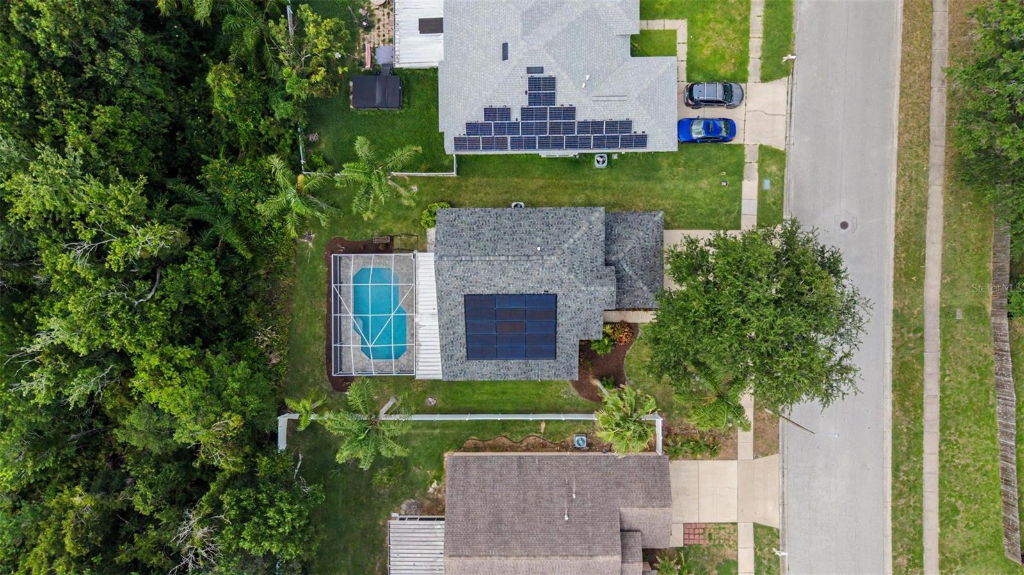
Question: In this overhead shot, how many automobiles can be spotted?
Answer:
2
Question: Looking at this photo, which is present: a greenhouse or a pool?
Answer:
pool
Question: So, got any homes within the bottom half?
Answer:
Yes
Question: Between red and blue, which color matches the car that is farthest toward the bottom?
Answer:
blue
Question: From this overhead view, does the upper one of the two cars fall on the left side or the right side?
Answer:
right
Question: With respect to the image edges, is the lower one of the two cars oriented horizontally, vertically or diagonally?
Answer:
horizontally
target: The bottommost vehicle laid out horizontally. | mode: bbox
[677,114,737,143]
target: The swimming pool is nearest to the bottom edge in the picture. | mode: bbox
[350,264,410,363]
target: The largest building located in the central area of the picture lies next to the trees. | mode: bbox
[414,207,665,381]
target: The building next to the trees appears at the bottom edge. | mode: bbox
[388,448,672,575]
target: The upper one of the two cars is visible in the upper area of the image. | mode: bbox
[683,79,743,110]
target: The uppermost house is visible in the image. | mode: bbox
[395,0,678,161]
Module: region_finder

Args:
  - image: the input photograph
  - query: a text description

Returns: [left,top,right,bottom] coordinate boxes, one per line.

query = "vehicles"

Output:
[683,79,743,110]
[677,114,737,143]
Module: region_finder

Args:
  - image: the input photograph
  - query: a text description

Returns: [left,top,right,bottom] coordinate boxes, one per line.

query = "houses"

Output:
[414,207,665,381]
[388,448,672,575]
[395,0,678,161]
